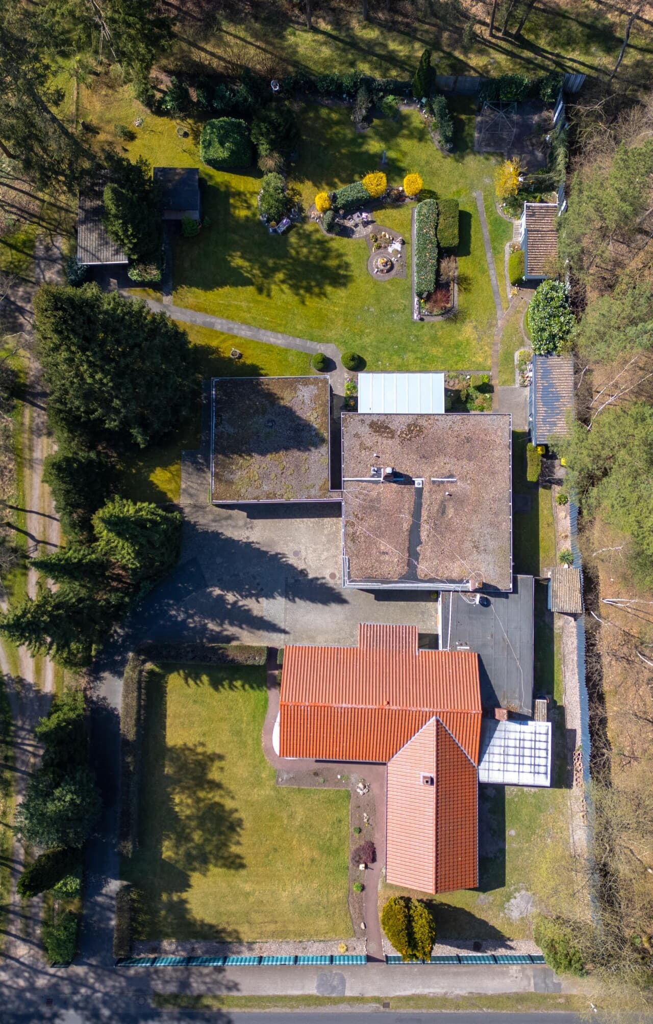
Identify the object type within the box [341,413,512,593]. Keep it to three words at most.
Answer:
house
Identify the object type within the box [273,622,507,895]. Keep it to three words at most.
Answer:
house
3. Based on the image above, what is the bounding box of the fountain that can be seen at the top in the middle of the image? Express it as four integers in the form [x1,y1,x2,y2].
[374,254,392,272]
